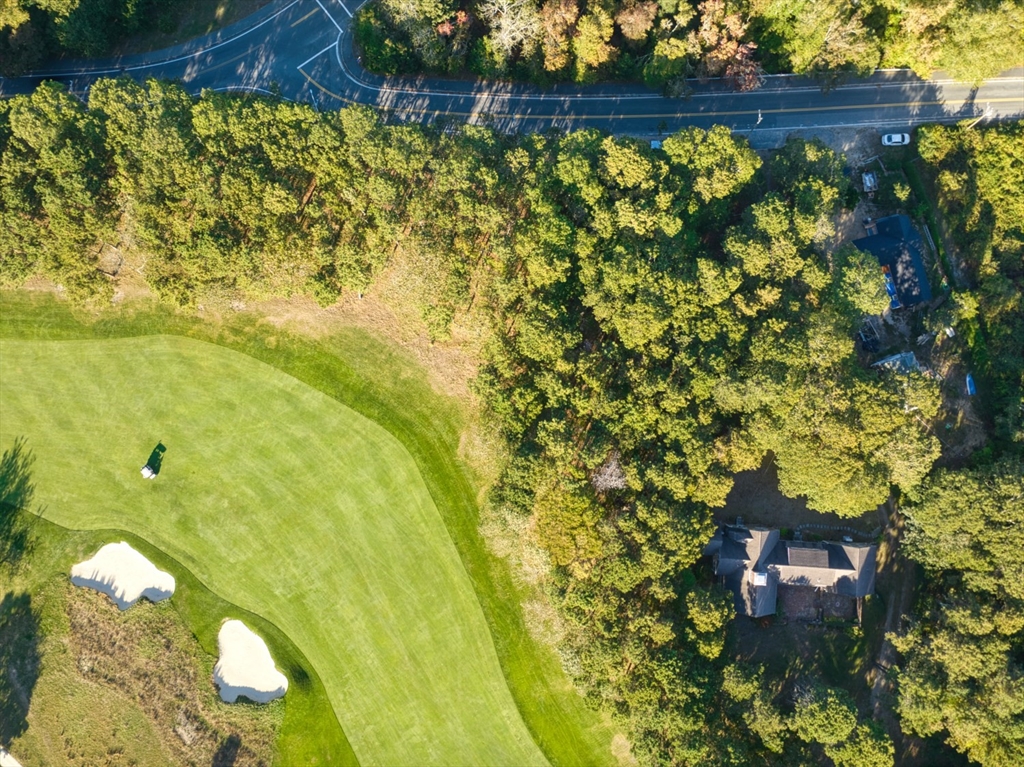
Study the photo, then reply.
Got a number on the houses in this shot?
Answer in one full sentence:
The number of houses here is 2.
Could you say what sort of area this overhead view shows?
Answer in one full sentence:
What you see here is a golf course.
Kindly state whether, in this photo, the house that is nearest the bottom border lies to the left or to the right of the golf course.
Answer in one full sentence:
The house that is nearest the bottom border is to the right of the golf course.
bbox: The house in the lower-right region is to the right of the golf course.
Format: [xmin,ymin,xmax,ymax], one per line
[704,525,876,617]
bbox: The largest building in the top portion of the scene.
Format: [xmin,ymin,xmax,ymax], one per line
[847,215,932,306]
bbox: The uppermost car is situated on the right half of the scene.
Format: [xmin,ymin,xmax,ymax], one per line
[881,132,911,146]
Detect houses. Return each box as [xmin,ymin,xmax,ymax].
[847,215,932,306]
[704,525,876,617]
